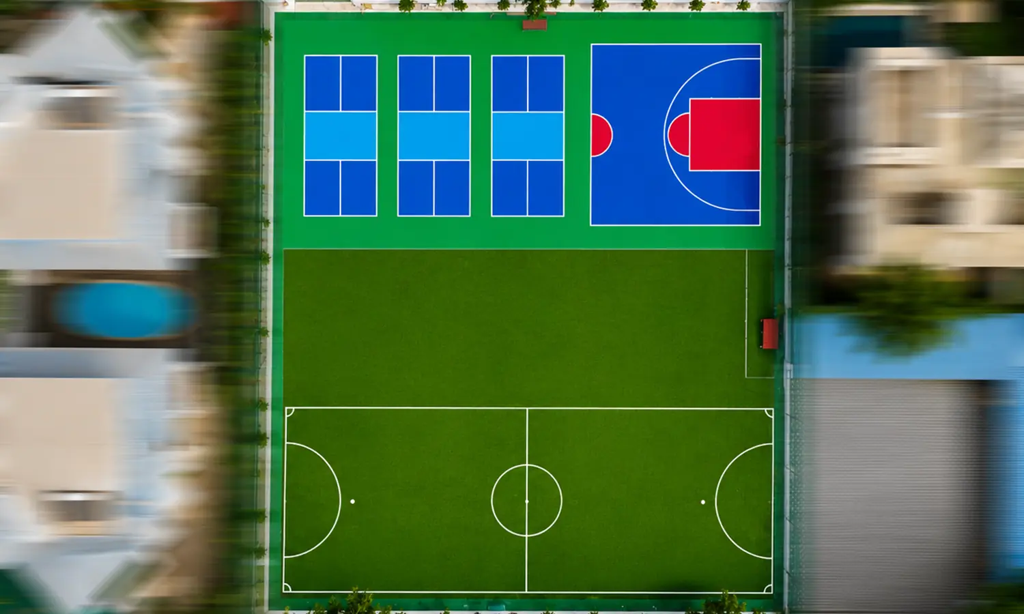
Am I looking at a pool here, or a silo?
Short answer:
pool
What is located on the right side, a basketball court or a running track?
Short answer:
basketball court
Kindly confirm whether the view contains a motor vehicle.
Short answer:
No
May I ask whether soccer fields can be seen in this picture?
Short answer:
Yes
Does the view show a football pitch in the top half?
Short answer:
No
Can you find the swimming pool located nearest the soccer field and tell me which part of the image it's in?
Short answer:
left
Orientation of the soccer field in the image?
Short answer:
horizontally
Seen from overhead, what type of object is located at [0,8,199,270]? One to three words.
house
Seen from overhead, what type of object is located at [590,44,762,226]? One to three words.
basketball court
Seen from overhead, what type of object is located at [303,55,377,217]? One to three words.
sports court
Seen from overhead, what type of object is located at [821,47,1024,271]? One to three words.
house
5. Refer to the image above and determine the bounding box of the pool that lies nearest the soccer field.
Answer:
[51,279,197,339]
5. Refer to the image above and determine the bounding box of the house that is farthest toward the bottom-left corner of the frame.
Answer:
[0,348,199,610]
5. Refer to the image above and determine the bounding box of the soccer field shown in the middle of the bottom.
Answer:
[283,407,774,594]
